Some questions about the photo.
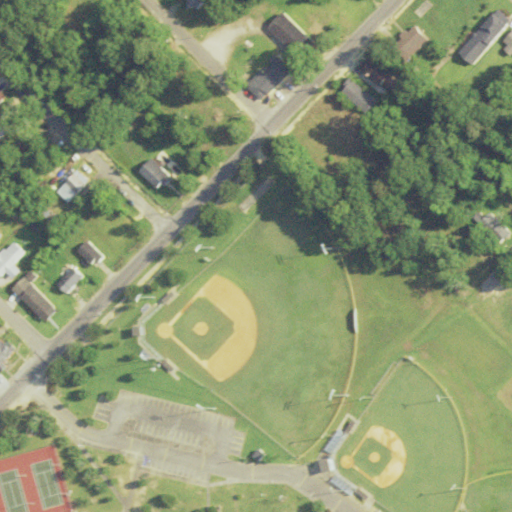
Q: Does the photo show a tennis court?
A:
Yes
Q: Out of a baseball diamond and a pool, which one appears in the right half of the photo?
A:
baseball diamond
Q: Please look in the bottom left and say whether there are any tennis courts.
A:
Yes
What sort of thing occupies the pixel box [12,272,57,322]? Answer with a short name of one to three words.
house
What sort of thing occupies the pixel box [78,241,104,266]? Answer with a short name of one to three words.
house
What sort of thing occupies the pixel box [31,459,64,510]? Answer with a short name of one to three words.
tennis court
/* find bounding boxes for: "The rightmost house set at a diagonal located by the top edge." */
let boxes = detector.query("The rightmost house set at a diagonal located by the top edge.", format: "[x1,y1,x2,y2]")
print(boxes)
[460,10,511,64]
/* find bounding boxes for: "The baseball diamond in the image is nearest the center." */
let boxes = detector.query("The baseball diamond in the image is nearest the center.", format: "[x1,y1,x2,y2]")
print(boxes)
[144,192,358,460]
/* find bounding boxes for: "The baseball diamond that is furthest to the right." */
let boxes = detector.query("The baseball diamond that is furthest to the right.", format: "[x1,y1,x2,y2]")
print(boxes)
[336,358,468,512]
